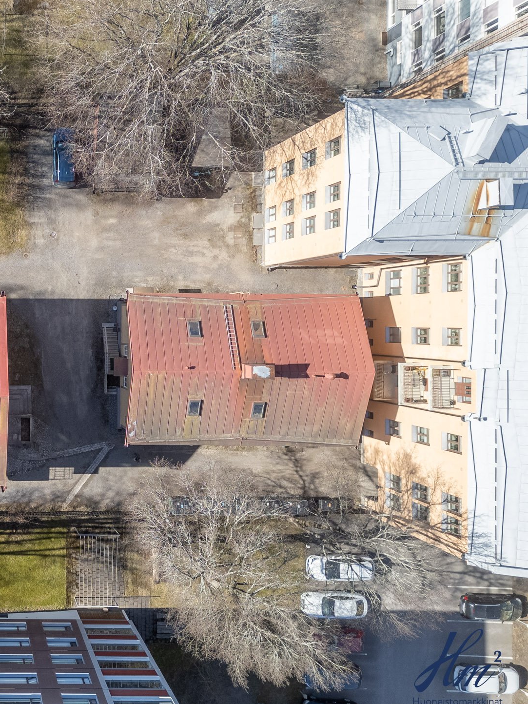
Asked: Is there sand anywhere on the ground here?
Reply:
No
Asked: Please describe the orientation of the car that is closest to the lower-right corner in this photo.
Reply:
from side to side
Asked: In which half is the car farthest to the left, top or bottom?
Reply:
top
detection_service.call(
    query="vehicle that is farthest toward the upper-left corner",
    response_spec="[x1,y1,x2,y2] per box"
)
[49,126,78,189]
